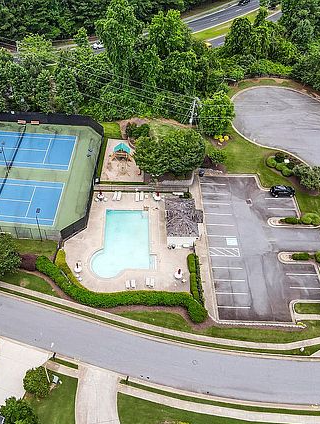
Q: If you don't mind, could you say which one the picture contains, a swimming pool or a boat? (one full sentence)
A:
There is a swimming pool in the scene.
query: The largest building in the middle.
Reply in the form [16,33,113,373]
[163,199,203,246]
